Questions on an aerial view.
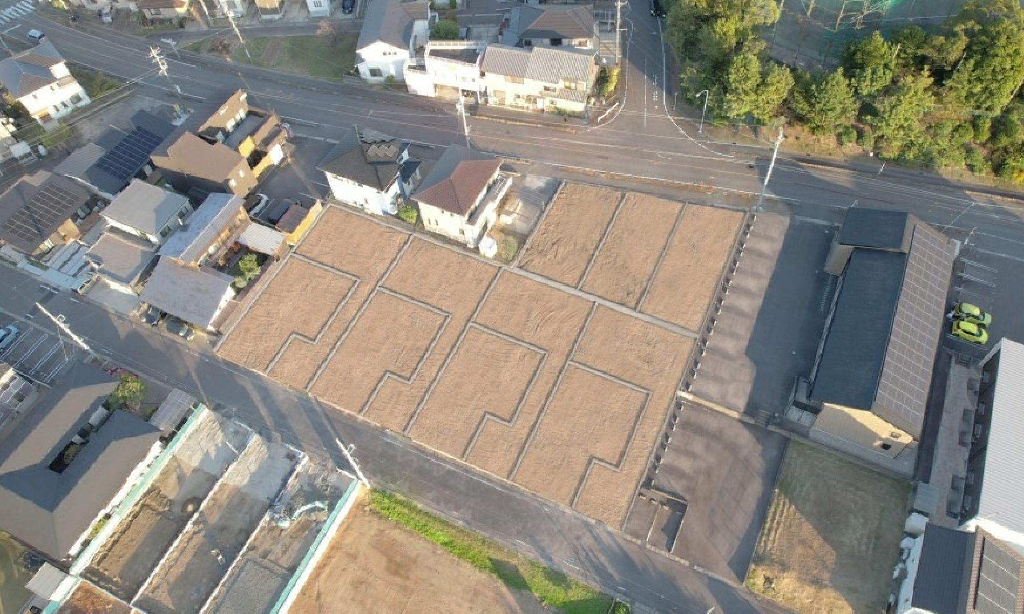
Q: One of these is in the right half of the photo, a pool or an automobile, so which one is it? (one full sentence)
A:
What appears in the right half of the photo is an automobile.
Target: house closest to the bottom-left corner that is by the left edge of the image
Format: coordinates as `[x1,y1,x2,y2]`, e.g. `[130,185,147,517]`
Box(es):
[24,566,66,600]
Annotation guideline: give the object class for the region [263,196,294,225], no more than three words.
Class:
car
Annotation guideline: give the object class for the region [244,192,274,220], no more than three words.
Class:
car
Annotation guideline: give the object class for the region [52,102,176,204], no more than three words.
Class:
house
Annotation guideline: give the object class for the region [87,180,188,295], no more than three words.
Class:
house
